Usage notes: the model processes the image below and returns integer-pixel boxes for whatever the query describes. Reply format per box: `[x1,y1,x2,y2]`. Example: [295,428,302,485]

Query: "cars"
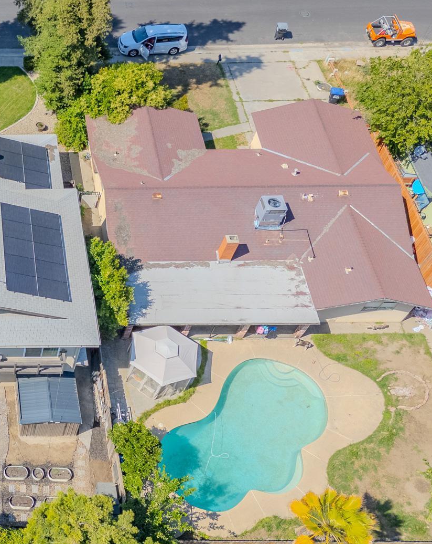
[364,17,416,47]
[116,20,189,61]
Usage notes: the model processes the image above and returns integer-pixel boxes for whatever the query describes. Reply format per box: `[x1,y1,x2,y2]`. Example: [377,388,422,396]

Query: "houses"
[0,132,102,386]
[86,100,432,346]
